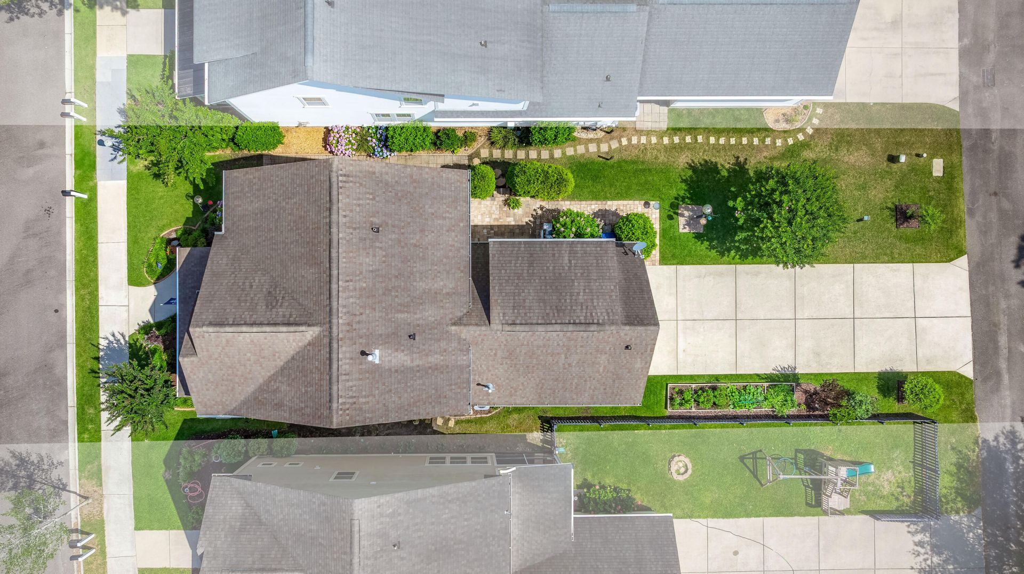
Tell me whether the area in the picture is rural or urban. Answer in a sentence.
This place is urban.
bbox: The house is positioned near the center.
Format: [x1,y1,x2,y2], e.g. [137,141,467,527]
[173,156,659,428]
